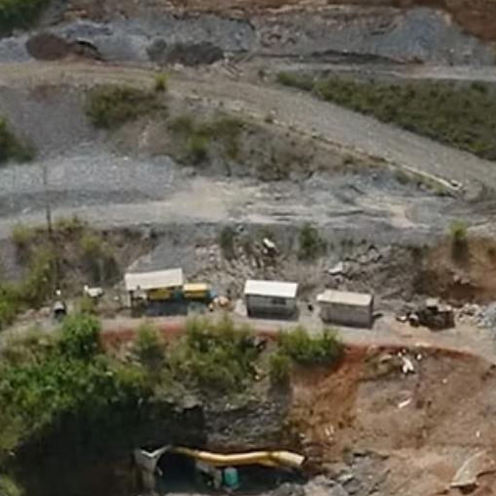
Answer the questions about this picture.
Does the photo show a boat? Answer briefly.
No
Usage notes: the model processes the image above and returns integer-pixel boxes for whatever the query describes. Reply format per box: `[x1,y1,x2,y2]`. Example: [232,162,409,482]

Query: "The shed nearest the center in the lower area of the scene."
[241,280,302,320]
